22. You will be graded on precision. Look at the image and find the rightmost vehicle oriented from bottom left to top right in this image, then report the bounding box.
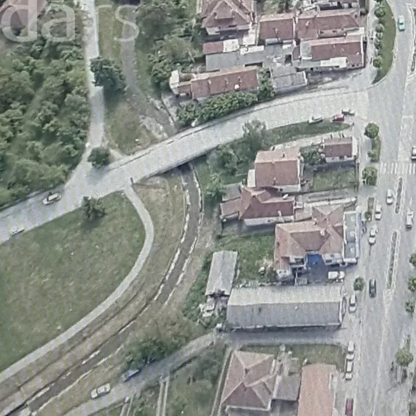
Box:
[119,369,136,382]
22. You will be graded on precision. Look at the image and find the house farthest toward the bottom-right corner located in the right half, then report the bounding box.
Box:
[299,364,337,416]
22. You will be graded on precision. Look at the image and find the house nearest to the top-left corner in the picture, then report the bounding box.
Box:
[0,0,51,34]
